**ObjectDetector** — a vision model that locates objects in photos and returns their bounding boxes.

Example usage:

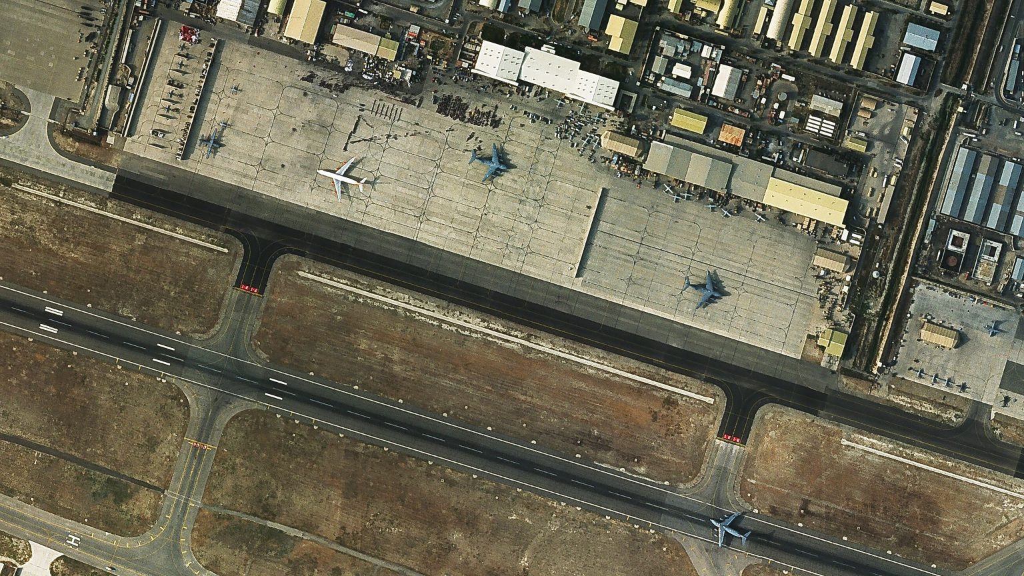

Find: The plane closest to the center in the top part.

[469,142,508,180]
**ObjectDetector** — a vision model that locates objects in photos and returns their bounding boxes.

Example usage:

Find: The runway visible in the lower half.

[0,280,961,576]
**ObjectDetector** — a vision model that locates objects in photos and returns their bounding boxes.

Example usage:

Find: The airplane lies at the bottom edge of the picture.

[710,512,749,548]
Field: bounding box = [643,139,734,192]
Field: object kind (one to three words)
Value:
hangar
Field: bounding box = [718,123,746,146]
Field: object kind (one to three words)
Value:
shed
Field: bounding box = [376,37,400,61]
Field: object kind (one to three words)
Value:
building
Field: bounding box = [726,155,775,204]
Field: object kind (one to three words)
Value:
hangar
